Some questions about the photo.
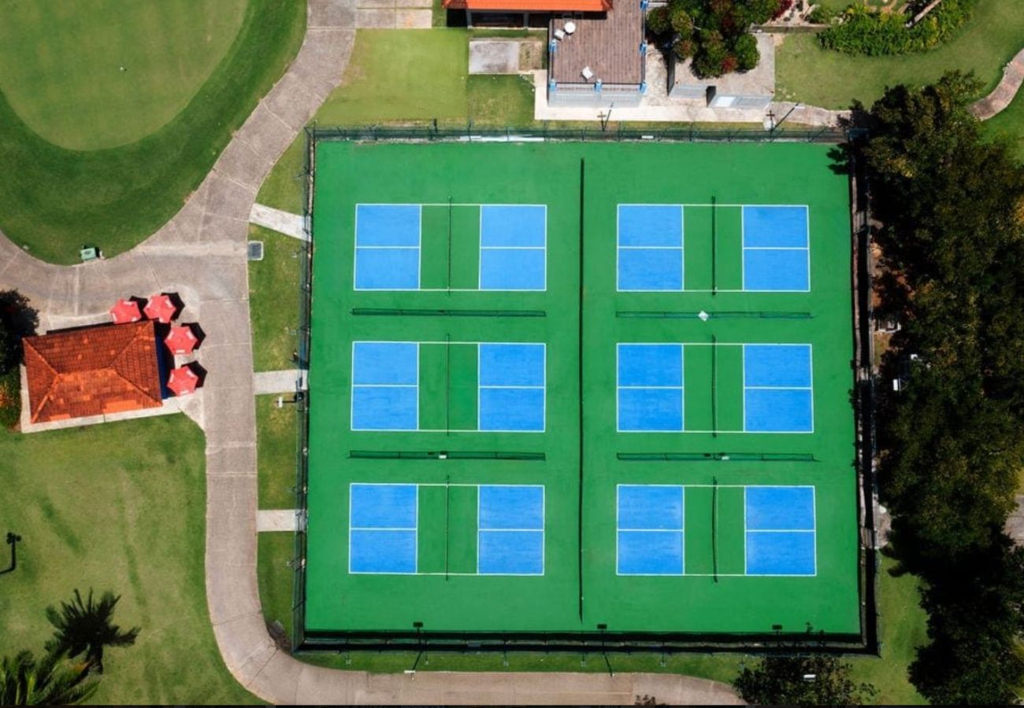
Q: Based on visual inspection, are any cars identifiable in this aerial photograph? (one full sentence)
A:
No, the photo shows no car.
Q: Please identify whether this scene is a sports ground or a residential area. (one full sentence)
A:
It's a sports ground.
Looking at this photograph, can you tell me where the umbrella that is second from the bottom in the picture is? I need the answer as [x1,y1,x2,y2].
[166,326,199,354]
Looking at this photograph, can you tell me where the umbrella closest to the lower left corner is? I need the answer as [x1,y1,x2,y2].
[168,366,200,396]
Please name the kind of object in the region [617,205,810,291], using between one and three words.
sports court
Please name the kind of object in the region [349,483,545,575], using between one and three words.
sports court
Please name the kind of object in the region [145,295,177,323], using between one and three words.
umbrella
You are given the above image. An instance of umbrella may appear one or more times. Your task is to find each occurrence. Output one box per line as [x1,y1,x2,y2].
[145,295,177,323]
[111,296,144,325]
[166,326,199,354]
[168,366,200,396]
